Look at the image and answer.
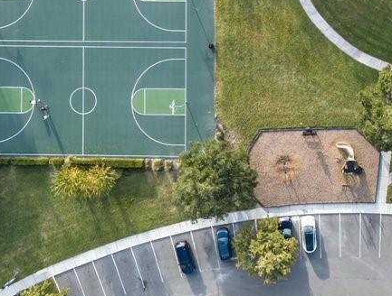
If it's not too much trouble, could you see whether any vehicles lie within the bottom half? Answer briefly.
Yes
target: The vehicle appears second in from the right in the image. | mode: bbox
[279,215,295,248]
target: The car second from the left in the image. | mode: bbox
[215,226,232,261]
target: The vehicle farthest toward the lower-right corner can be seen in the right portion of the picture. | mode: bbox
[301,216,318,253]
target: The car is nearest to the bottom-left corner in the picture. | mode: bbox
[175,240,195,275]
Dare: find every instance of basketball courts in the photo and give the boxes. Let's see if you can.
[0,47,186,156]
[0,0,186,43]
